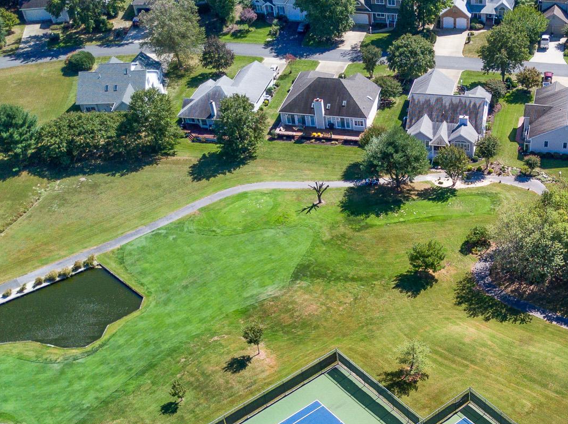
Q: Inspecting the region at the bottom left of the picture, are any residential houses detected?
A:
No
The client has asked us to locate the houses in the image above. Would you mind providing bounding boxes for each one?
[438,0,514,30]
[77,43,180,128]
[402,65,493,160]
[274,69,380,143]
[513,76,568,157]
[344,0,403,28]
[175,56,280,143]
[19,0,66,24]
[537,0,568,36]
[252,0,300,20]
